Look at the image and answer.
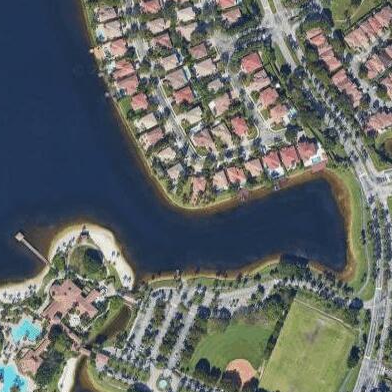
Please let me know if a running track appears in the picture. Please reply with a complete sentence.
No, I find no running track anywhere in the image.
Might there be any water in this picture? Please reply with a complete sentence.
Yes, some water is visible.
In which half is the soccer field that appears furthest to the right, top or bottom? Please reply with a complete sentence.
It is in the bottom half that the soccer field that appears furthest to the right appears.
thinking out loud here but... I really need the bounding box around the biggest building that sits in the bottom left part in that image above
[34,276,102,351]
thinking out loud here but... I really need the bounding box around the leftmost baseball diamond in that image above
[194,320,277,392]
